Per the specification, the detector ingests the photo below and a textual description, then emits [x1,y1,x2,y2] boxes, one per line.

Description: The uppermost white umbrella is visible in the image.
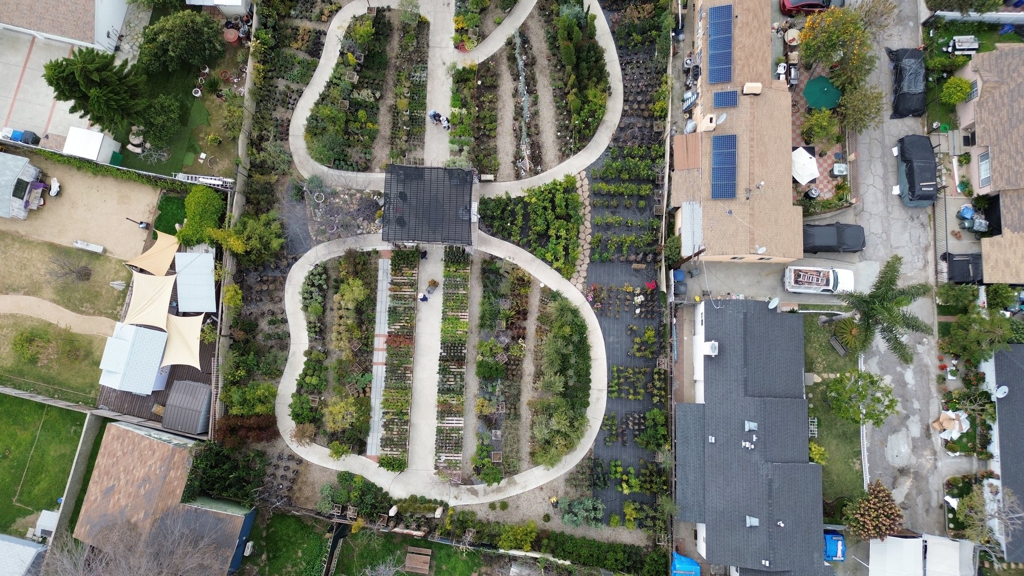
[793,152,819,182]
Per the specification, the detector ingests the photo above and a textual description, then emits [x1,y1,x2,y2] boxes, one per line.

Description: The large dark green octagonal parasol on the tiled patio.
[802,75,840,112]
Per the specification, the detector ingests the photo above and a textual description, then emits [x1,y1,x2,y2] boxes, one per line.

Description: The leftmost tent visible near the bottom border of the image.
[852,530,923,576]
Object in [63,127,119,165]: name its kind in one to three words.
shed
